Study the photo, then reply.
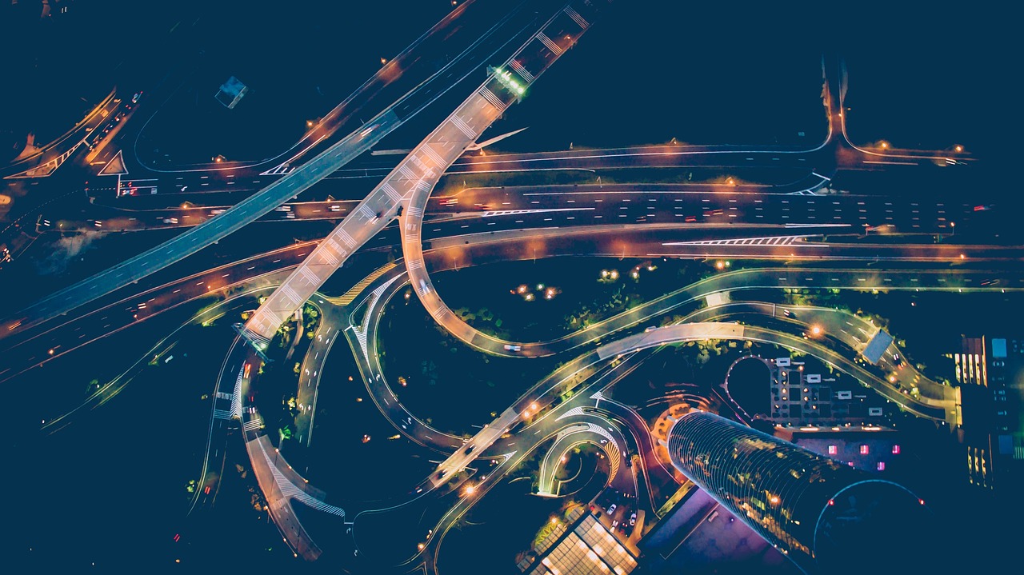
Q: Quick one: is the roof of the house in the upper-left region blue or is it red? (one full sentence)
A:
The roof of the house in the upper-left region is blue.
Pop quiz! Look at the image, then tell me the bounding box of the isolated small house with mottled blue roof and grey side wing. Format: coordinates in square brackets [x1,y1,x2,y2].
[215,75,252,112]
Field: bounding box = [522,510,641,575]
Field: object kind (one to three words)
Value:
building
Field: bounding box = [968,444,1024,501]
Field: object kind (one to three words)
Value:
building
